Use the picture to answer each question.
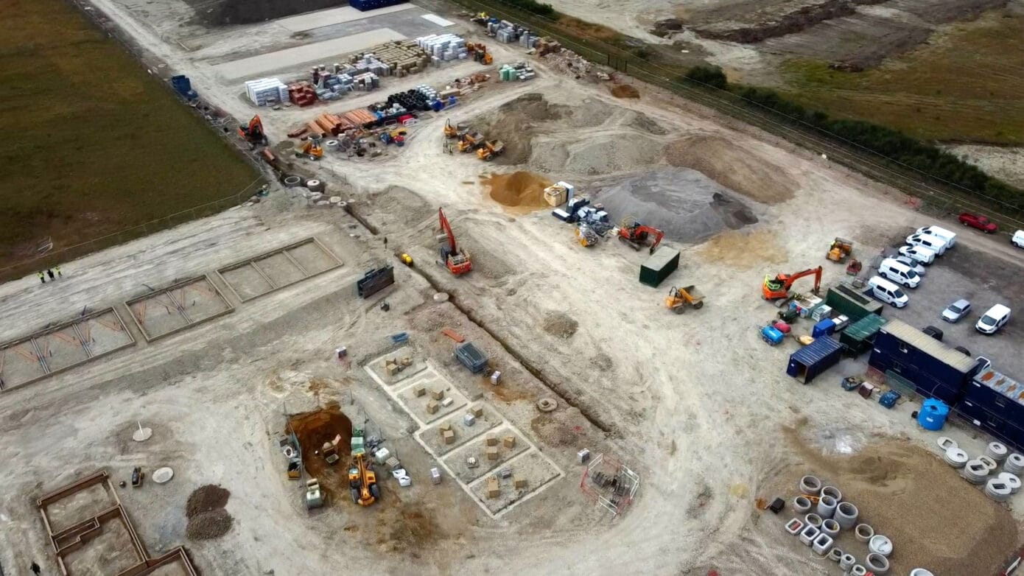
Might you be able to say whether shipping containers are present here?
Yes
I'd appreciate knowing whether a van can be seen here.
Yes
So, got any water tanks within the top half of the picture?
No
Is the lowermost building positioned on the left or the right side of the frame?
right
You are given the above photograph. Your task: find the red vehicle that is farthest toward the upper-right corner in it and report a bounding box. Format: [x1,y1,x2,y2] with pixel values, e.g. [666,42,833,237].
[958,214,1000,234]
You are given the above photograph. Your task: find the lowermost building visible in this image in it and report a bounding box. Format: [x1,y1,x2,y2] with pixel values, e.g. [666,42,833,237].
[964,370,1024,452]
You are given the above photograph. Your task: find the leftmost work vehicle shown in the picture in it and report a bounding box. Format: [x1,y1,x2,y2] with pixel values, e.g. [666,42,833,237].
[239,113,267,144]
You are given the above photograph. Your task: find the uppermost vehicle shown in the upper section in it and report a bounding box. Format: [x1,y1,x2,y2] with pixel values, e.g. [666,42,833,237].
[469,41,490,60]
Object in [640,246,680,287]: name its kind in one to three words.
shipping container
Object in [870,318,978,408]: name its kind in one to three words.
building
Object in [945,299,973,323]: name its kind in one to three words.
car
